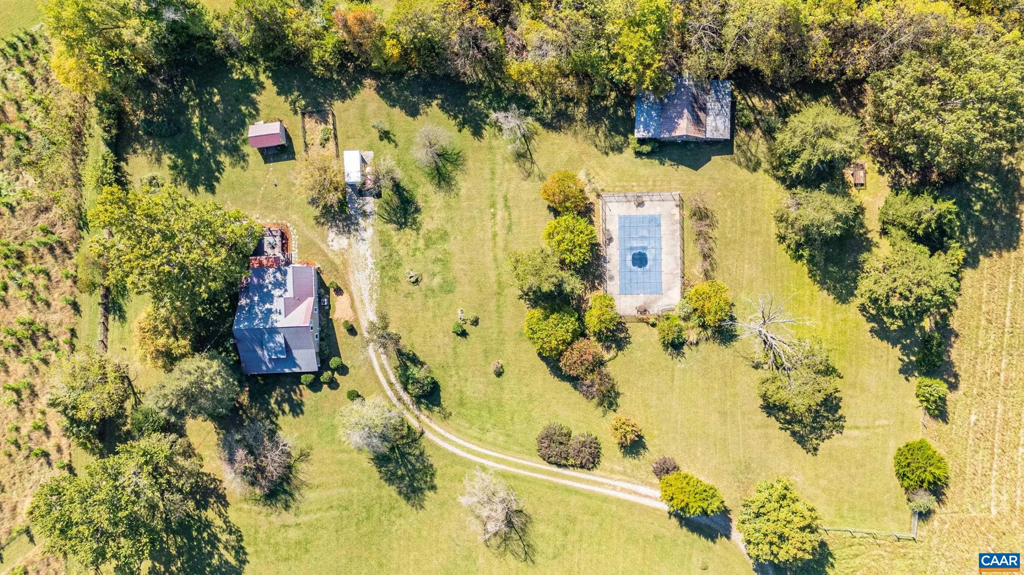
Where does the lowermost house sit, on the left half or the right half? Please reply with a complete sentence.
The lowermost house appears in the left half of the scene.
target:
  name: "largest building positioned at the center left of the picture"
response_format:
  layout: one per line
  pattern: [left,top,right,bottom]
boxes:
[231,256,323,375]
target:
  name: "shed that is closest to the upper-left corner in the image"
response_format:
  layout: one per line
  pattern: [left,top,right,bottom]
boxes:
[242,119,284,155]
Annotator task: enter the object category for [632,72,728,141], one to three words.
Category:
barn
